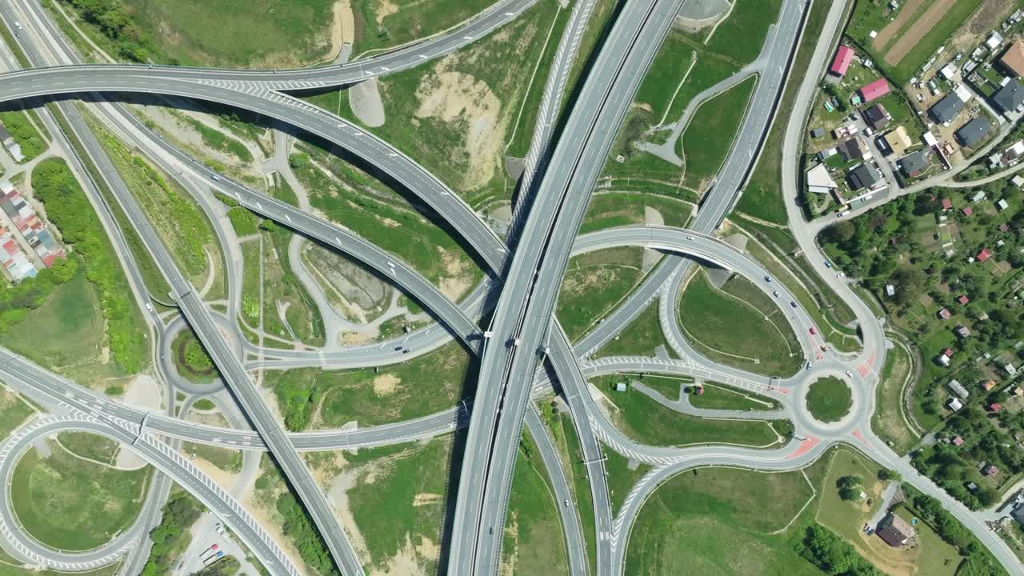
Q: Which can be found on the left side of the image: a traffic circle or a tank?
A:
traffic circle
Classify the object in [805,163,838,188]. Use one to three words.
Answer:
building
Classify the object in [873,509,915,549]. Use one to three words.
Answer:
house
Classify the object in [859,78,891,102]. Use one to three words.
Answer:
house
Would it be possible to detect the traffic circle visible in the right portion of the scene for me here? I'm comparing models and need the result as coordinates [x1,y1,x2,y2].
[788,360,869,440]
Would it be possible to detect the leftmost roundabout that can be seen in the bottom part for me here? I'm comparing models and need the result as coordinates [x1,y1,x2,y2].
[160,314,243,395]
